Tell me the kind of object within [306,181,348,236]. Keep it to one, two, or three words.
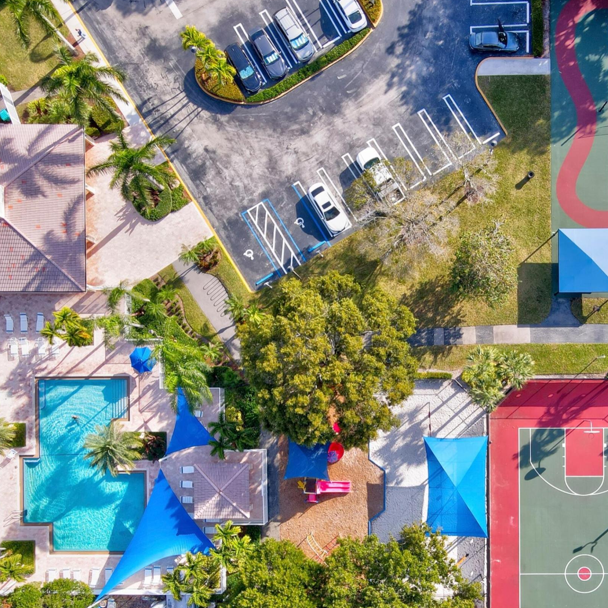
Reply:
car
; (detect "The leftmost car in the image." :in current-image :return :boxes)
[224,42,265,96]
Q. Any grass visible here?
Yes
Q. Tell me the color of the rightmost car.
blue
